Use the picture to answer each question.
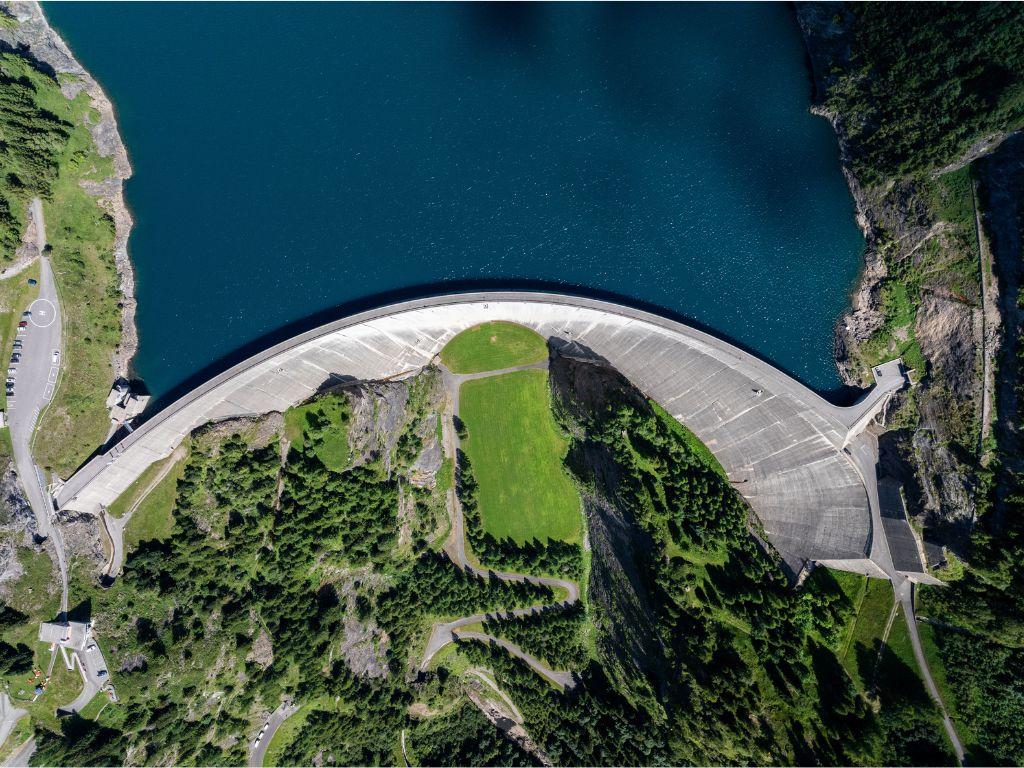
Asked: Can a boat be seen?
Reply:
No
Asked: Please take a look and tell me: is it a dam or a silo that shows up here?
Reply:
dam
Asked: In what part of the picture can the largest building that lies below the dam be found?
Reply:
bottom left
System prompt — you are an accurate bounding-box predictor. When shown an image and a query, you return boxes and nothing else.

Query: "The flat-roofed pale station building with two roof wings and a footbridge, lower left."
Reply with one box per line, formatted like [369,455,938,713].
[40,609,105,651]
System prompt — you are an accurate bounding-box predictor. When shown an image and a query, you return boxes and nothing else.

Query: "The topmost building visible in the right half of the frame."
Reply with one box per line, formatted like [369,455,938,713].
[870,358,905,393]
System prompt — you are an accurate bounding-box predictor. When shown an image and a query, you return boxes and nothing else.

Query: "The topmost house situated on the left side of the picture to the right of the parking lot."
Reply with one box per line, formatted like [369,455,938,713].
[106,385,159,425]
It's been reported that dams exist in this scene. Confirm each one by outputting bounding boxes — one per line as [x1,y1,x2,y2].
[56,291,934,586]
